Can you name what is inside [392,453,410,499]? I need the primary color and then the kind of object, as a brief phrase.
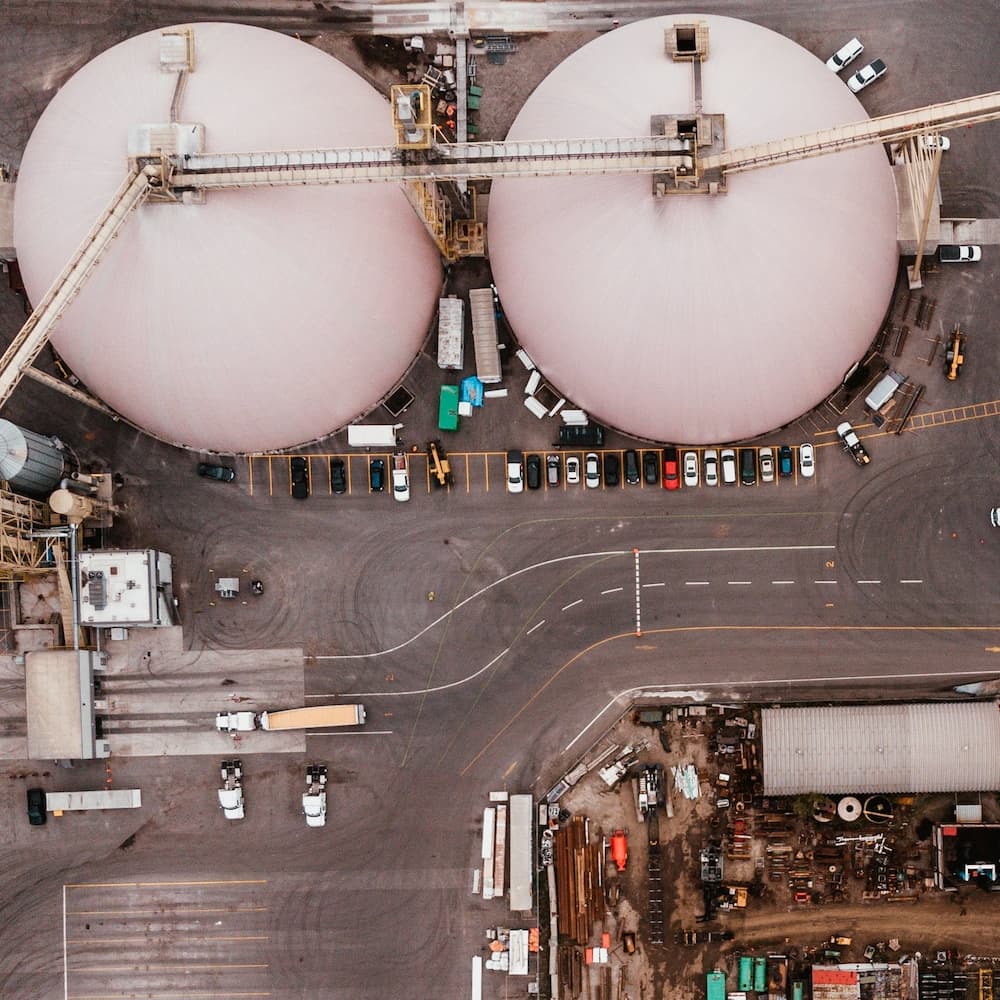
white vehicle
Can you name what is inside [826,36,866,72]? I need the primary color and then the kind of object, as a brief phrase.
white truck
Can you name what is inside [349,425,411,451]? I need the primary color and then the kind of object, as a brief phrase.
white trailer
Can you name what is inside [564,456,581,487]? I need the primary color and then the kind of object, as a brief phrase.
white car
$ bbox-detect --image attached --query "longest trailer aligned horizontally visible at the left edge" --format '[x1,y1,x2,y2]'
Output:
[47,789,146,811]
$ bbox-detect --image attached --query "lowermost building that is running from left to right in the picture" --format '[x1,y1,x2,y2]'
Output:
[812,963,905,1000]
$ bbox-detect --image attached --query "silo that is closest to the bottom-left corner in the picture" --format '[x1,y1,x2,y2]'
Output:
[50,489,104,529]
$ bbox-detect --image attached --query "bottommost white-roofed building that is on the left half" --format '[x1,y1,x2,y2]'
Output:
[79,550,182,632]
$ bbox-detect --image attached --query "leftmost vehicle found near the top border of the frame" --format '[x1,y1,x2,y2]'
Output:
[401,31,425,51]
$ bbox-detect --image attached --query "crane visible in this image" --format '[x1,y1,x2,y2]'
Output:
[632,755,668,946]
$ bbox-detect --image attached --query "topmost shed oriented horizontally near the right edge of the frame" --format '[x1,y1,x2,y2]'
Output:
[763,701,1000,796]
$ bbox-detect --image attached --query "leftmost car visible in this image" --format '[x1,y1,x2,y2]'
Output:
[26,788,48,826]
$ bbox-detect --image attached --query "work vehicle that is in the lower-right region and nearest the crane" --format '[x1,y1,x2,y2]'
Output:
[709,888,749,908]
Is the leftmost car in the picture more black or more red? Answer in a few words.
black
